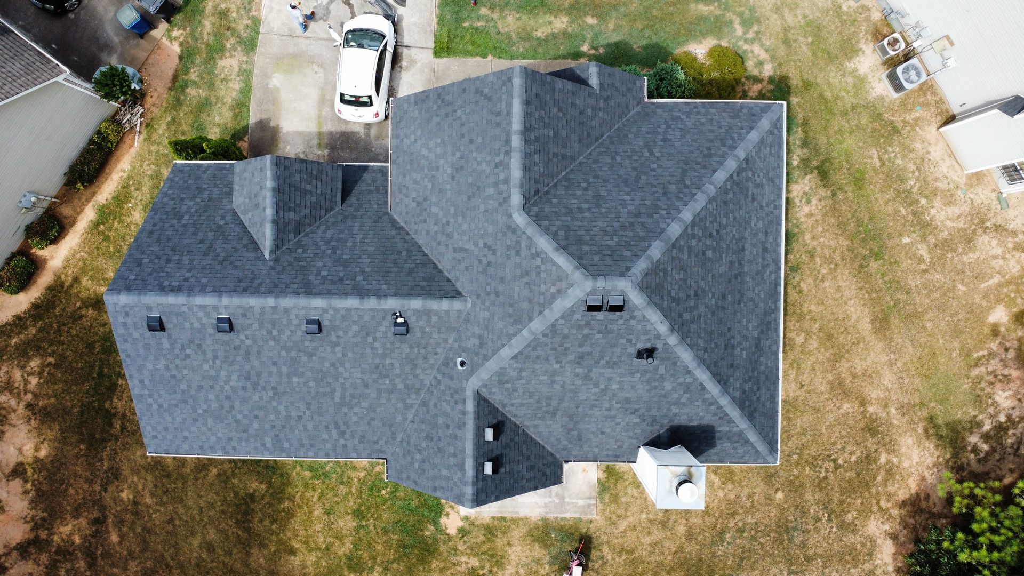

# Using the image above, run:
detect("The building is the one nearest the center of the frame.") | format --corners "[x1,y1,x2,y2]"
[103,62,787,509]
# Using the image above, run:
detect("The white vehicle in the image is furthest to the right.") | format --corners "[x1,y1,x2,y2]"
[328,10,395,125]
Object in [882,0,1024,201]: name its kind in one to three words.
house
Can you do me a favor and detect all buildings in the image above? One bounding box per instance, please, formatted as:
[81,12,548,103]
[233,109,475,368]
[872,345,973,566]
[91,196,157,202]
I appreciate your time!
[103,62,787,509]
[0,16,118,264]
[882,0,1024,201]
